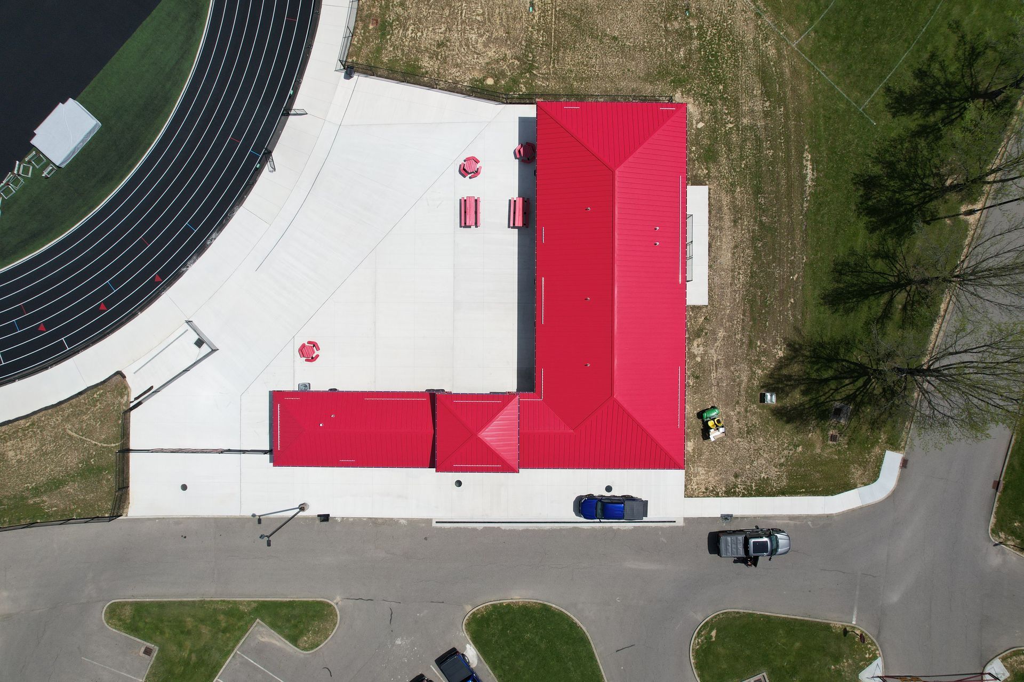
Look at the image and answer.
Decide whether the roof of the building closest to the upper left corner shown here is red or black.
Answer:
red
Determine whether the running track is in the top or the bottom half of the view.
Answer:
top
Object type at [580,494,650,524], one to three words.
truck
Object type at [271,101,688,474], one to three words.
building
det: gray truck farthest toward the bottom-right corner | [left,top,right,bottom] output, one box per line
[713,528,787,567]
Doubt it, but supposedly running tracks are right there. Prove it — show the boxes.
[0,0,315,379]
